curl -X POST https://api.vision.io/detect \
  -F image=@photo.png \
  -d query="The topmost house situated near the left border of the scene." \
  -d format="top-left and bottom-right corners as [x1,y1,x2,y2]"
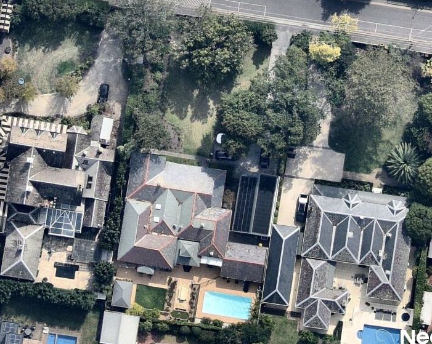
[0,115,118,282]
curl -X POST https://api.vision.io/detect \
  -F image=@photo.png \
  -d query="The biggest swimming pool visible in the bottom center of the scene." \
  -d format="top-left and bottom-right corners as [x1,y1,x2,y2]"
[200,291,254,321]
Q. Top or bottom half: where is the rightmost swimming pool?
bottom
